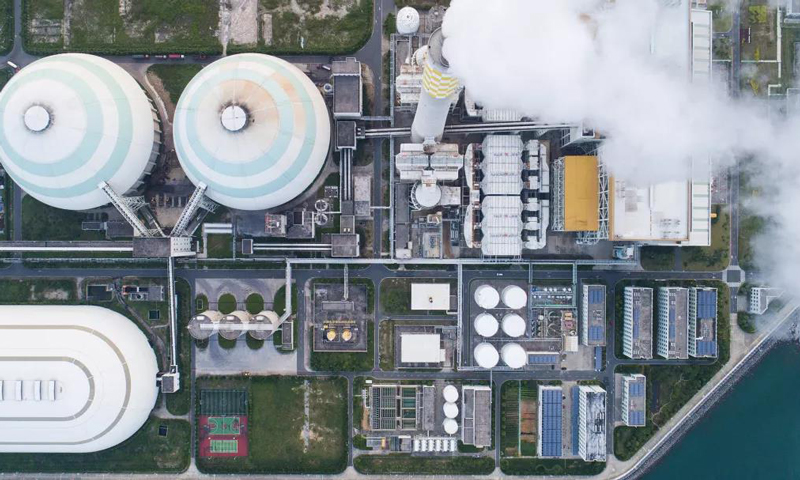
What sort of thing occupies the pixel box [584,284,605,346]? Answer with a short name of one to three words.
building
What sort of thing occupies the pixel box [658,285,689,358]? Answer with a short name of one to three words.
building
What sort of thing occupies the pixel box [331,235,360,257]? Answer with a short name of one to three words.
house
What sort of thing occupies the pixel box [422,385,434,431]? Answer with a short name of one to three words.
house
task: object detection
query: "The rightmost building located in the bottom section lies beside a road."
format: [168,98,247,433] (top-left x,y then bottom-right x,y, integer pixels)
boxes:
[750,286,787,314]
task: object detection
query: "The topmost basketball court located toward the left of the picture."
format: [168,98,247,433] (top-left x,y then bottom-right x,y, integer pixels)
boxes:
[199,416,248,438]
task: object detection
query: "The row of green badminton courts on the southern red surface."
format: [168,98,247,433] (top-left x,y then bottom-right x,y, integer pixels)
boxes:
[199,438,248,457]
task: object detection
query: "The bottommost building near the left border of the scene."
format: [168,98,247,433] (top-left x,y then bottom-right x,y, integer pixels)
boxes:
[0,304,162,453]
